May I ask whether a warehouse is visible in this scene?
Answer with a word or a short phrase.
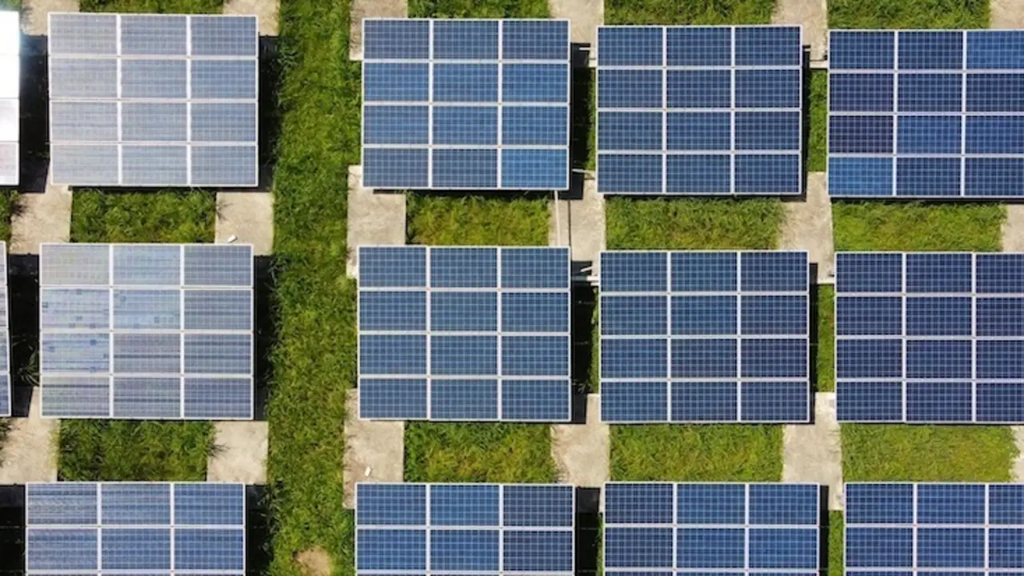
No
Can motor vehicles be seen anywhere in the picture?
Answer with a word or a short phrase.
No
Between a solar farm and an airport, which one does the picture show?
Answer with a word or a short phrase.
solar farm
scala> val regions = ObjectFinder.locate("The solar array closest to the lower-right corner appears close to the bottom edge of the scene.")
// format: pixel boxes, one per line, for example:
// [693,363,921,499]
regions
[835,483,1024,576]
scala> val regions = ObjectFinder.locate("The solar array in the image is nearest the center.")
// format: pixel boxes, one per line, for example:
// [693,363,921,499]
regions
[359,247,570,420]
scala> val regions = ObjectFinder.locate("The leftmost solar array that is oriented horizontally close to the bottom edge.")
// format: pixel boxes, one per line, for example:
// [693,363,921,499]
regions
[26,482,249,576]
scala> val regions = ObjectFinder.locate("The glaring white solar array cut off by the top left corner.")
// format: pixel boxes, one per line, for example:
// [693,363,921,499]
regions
[0,11,32,182]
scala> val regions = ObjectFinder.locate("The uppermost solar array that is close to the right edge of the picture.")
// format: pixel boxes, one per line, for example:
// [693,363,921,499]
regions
[821,30,1024,197]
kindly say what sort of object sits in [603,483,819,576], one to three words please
solar array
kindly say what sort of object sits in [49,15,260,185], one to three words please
solar array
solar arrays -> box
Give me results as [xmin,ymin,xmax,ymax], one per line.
[359,247,570,420]
[0,242,18,416]
[597,25,801,194]
[603,483,819,576]
[835,483,1024,576]
[363,19,569,189]
[26,482,249,576]
[0,11,32,182]
[599,251,809,423]
[357,483,574,576]
[828,252,1024,423]
[40,244,256,418]
[821,30,1024,197]
[49,15,260,185]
